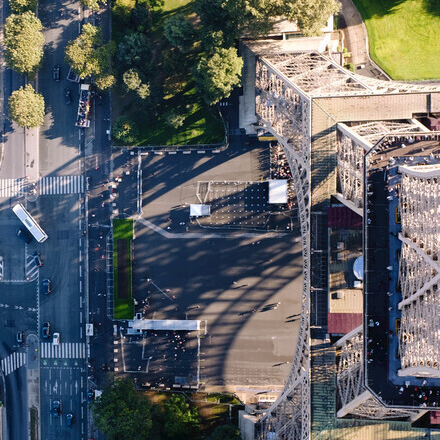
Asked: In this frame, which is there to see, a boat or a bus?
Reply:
bus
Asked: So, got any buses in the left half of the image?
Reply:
Yes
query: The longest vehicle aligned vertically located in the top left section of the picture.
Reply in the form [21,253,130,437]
[73,81,90,128]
